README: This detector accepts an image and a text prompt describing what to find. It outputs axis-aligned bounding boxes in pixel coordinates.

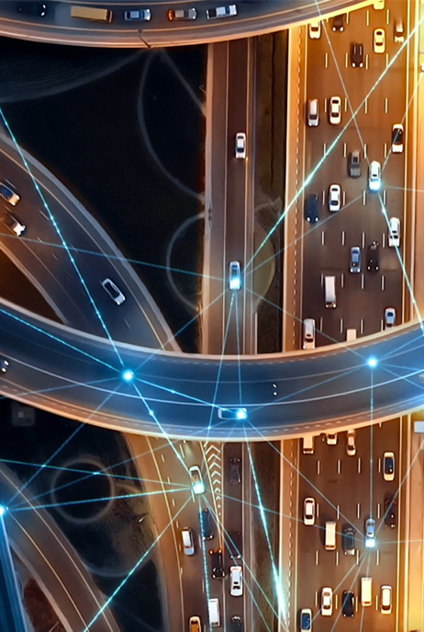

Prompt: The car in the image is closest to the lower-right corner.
[380,585,394,613]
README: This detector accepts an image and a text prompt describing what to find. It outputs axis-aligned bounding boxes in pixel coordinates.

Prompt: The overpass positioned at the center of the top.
[0,0,380,50]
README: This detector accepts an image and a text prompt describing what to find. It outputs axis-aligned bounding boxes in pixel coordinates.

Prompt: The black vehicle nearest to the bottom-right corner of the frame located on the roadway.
[342,588,354,617]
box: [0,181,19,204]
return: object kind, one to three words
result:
car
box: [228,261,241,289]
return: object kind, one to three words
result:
vehicle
